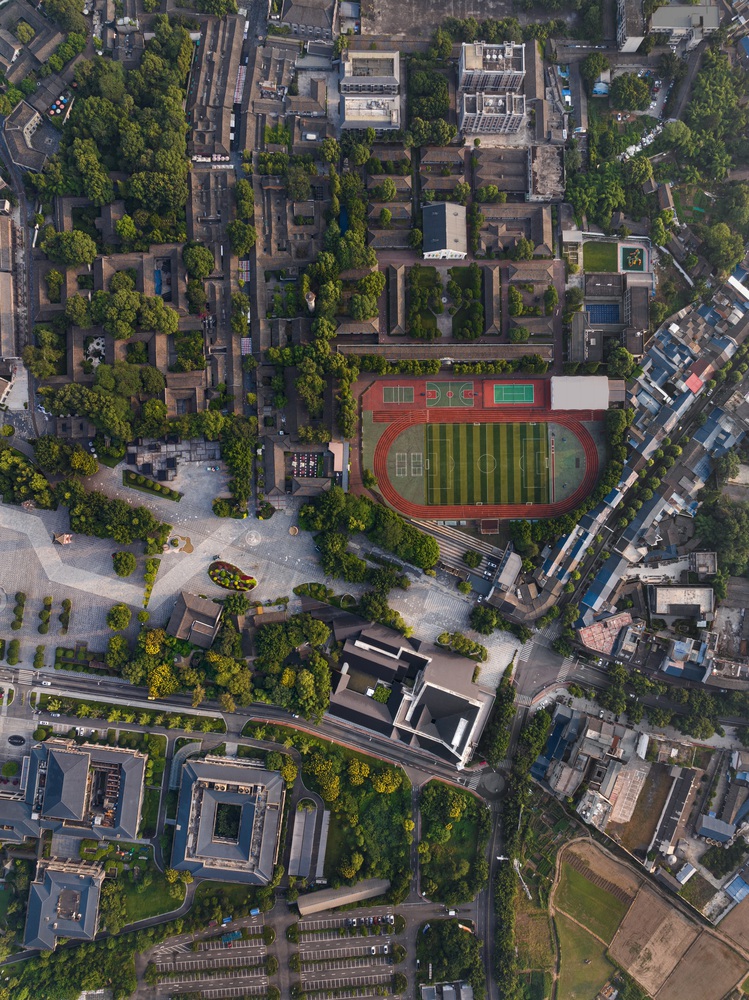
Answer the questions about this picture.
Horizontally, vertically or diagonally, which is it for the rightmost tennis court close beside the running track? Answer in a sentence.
The rightmost tennis court close beside the running track runs horizontally in the image.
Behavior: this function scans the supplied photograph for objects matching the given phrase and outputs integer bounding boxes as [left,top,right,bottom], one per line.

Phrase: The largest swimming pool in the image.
[584,301,621,326]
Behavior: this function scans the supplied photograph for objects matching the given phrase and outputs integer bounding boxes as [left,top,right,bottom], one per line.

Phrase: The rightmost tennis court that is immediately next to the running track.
[483,380,546,408]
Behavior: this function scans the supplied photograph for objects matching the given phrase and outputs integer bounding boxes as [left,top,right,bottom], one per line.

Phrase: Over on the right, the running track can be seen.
[373,409,627,520]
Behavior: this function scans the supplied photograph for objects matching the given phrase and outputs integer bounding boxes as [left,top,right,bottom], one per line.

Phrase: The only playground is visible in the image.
[618,242,648,272]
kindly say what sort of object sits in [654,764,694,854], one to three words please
barn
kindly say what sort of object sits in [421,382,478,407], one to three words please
basketball court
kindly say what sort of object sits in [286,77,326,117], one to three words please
house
